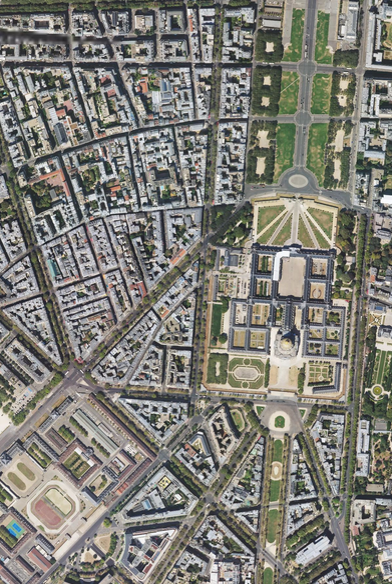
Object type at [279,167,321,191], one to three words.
roundabout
